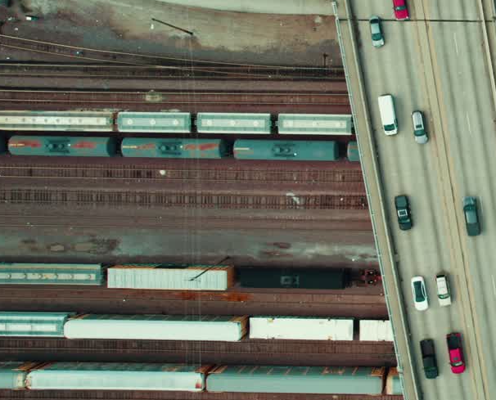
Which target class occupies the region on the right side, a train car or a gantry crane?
train car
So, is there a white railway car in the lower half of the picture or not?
Yes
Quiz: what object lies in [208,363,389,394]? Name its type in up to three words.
rail car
